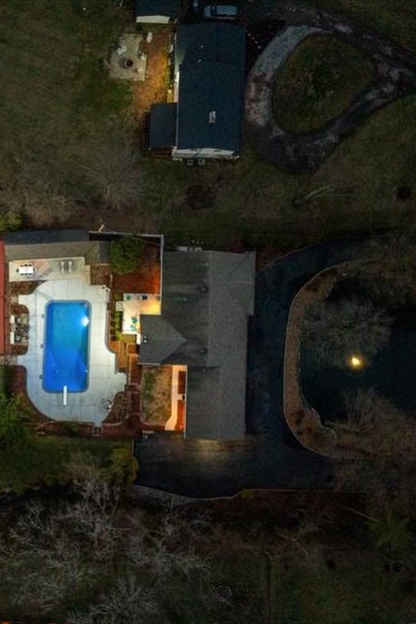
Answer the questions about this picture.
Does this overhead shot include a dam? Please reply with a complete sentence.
No, no dam can be seen from above.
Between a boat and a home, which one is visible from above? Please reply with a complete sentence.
Visible in the photo is a home.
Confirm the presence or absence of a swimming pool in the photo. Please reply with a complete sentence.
Yes, there is a swimming pool in the image.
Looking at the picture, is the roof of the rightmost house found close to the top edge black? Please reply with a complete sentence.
Yes, black is the color of the roof of the rightmost house found close to the top edge.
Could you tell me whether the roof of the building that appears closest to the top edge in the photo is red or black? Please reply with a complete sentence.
In this view, the roof of the building that appears closest to the top edge is black.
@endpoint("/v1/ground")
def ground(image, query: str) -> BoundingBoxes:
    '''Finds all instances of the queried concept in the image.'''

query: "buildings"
[135,251,256,439]
[4,229,96,263]
[135,0,179,25]
[173,21,245,158]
